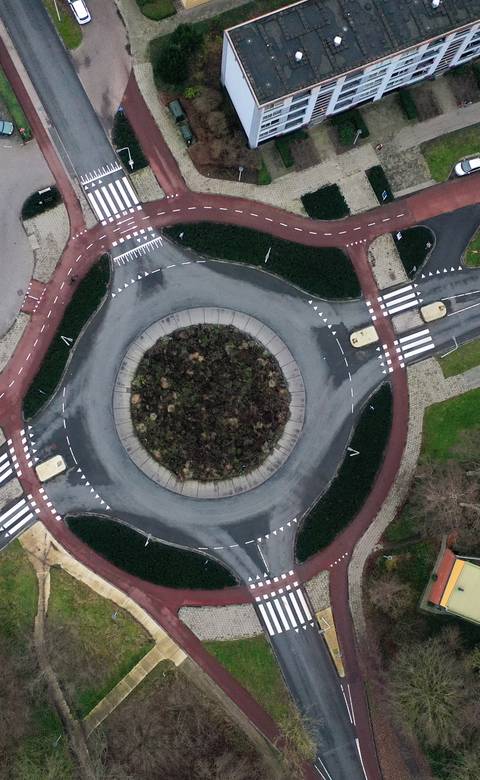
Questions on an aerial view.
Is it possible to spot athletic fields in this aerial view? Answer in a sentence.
No, the frame has no athletic field in it.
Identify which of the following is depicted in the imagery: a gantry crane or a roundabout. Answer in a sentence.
Of the two, only a roundabout appears.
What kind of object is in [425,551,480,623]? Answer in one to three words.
house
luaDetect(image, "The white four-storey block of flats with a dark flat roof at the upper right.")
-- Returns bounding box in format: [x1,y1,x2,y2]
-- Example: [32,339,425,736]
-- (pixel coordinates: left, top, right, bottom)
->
[219,0,480,149]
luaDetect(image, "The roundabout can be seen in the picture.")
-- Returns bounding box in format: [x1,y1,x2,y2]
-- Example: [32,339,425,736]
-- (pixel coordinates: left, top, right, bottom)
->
[22,229,392,584]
